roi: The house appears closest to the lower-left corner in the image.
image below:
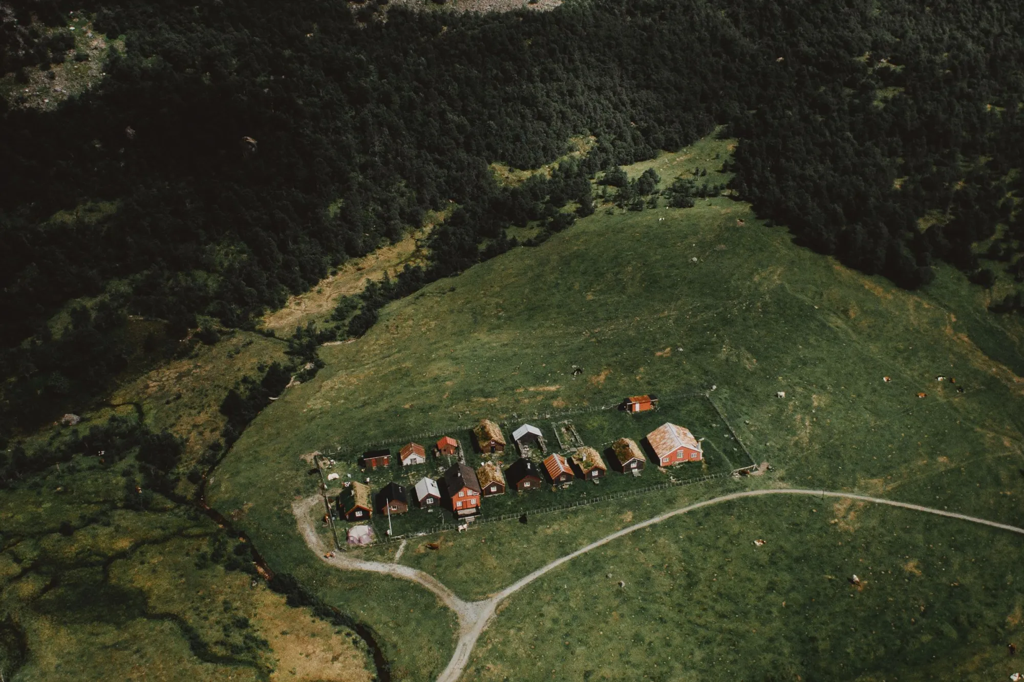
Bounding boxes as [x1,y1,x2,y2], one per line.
[339,480,373,521]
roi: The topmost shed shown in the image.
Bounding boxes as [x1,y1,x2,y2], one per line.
[623,394,659,413]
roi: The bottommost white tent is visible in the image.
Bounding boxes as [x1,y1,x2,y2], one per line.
[347,526,375,546]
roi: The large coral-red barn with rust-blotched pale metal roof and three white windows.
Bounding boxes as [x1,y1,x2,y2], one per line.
[647,422,707,467]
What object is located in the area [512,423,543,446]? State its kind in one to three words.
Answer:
barn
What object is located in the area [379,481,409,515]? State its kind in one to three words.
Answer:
house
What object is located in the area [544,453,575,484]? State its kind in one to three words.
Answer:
house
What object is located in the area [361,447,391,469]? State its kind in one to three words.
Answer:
shed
